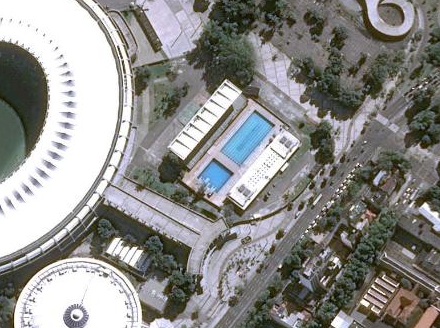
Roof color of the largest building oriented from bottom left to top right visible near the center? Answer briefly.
white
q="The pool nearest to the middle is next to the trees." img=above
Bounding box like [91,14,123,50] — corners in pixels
[182,101,300,215]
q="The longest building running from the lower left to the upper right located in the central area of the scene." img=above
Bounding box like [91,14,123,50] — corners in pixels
[228,129,301,211]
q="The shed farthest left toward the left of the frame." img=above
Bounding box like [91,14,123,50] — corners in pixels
[106,237,149,273]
